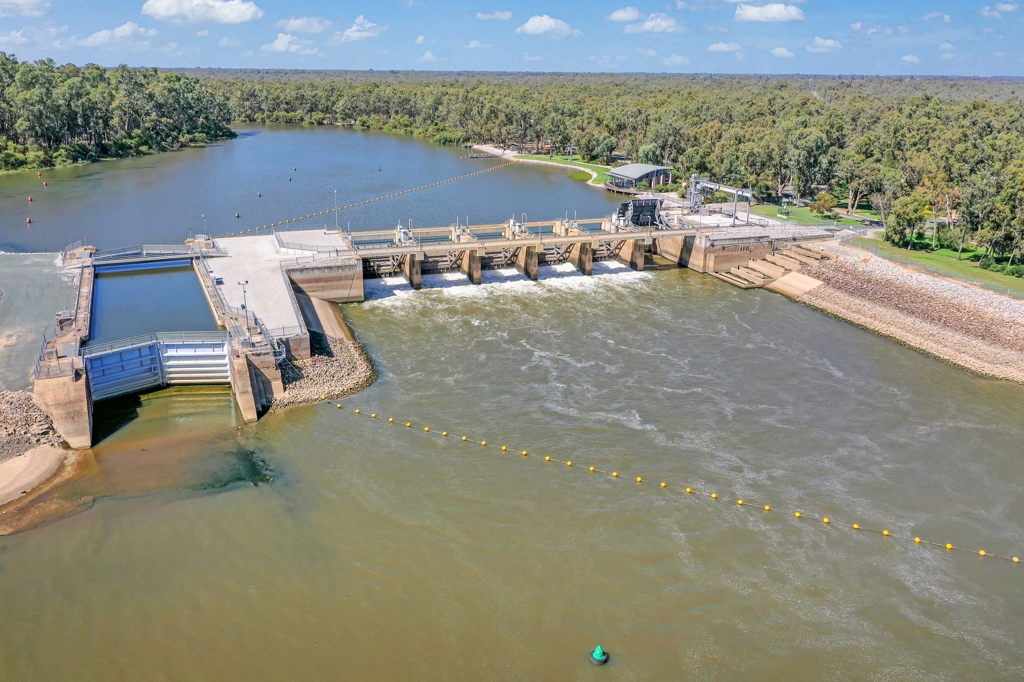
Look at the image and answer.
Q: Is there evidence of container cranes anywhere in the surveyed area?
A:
Yes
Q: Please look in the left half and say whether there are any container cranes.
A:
No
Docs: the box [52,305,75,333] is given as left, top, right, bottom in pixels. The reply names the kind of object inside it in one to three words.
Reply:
shed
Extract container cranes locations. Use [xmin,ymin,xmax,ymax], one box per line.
[681,166,755,225]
